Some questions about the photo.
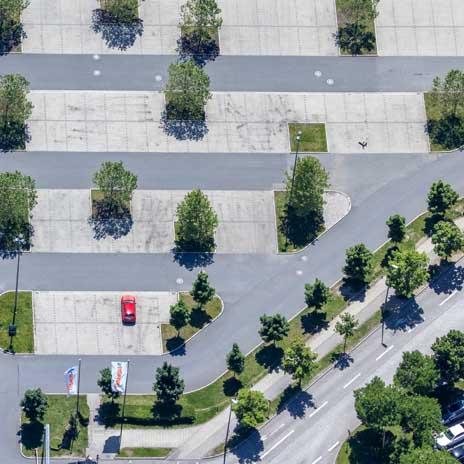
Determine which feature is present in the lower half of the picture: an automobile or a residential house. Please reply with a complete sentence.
Visible in the lower half of the picture is an automobile.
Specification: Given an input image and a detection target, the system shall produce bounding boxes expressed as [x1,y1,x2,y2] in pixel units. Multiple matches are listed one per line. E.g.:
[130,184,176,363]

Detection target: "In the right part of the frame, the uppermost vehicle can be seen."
[438,403,464,430]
